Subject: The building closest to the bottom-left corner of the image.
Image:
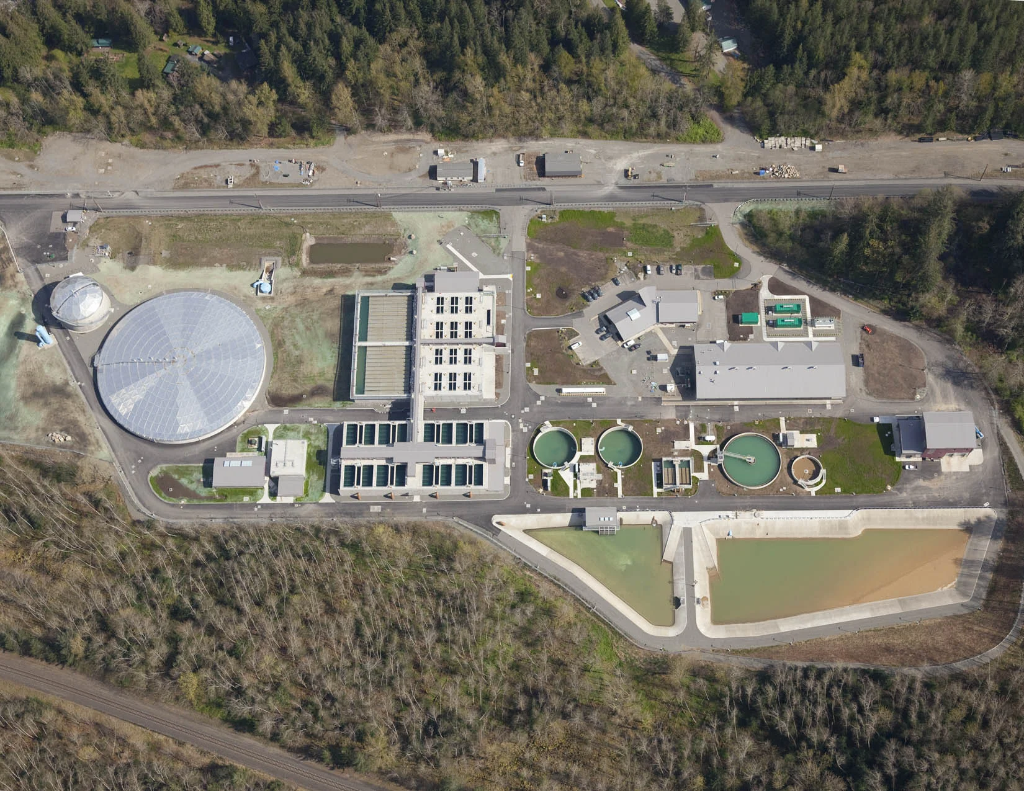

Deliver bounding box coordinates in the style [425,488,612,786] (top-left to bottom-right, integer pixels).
[213,457,267,489]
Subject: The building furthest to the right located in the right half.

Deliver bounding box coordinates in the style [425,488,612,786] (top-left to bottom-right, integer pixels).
[878,411,977,458]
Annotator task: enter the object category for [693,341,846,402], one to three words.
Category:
building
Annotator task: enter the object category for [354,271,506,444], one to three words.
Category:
building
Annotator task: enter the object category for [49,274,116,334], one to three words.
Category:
storage tank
